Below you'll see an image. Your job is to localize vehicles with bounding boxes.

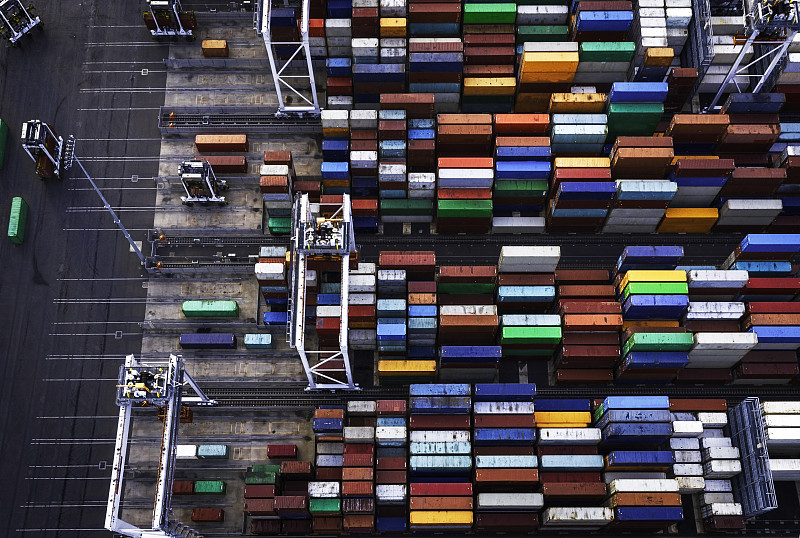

[143,0,194,40]
[15,118,65,176]
[0,0,44,45]
[173,156,227,205]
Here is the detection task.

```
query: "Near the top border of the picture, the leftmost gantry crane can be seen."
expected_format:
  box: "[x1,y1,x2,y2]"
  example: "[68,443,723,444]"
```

[254,0,327,116]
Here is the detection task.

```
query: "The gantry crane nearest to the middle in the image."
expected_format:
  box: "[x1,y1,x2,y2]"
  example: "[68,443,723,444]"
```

[288,194,365,392]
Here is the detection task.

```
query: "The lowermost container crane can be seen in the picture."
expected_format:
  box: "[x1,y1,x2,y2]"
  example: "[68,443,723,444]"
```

[102,358,222,538]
